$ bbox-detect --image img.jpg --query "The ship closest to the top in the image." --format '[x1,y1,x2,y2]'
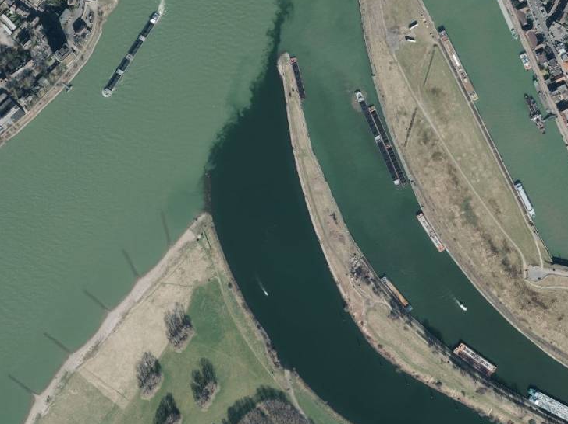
[497,0,517,39]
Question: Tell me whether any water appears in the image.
Yes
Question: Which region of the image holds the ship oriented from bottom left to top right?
top left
